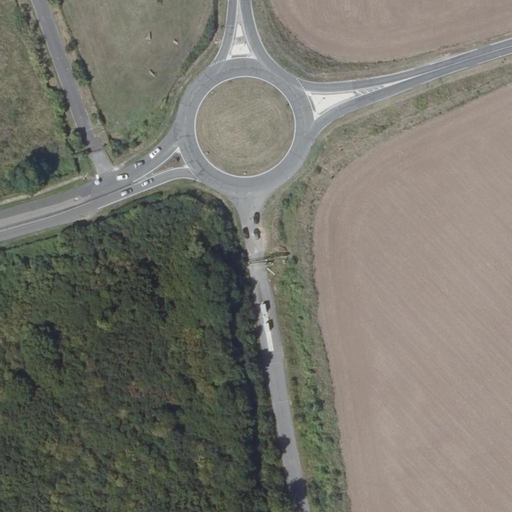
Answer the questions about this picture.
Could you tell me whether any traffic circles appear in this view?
Yes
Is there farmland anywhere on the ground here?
Yes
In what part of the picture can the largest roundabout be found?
top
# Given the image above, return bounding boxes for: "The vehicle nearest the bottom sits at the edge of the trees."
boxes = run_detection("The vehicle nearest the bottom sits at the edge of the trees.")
[260,302,274,352]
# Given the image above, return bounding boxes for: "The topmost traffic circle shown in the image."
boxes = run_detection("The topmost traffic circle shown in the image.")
[141,19,356,196]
